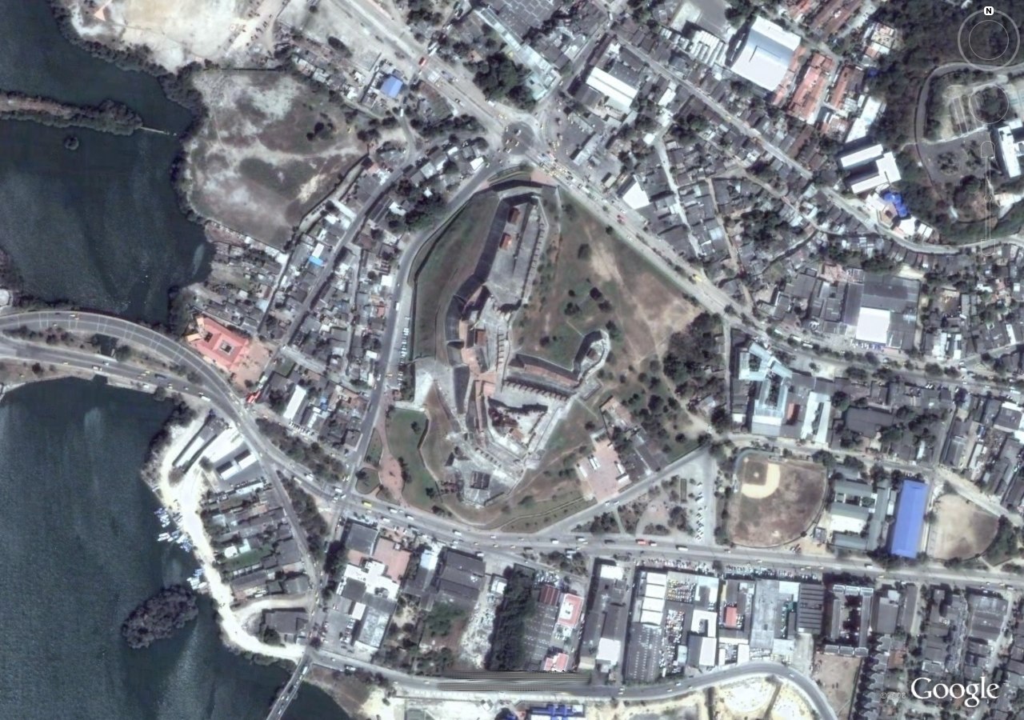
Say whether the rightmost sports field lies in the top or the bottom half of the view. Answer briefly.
bottom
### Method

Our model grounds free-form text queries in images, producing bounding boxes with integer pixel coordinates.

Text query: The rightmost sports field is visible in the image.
[931,494,998,560]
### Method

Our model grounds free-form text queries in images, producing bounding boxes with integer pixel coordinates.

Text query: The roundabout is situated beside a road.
[497,116,547,157]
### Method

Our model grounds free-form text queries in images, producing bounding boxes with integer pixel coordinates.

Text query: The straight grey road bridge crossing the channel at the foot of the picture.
[269,644,315,720]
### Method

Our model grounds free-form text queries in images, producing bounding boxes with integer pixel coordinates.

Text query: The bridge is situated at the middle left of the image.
[0,312,246,427]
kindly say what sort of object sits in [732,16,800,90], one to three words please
building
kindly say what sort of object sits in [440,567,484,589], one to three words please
building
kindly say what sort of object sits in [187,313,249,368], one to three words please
house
